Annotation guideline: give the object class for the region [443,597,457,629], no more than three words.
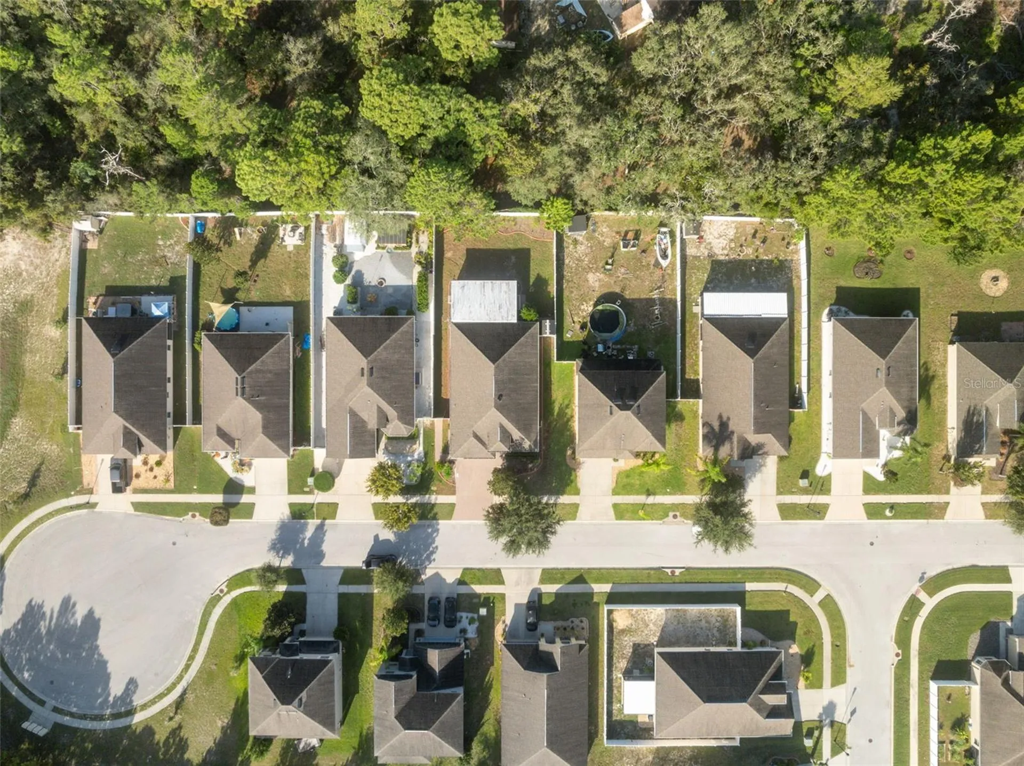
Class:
car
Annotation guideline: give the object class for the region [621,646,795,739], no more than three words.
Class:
house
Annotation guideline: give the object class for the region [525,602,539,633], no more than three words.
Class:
car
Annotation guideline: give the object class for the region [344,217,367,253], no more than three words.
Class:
shed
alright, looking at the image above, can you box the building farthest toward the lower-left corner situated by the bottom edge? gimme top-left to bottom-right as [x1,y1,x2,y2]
[248,635,343,739]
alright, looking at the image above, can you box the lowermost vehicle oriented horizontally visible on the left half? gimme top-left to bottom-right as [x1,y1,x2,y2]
[363,555,396,570]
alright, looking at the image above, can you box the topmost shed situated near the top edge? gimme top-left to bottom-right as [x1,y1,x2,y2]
[605,0,660,42]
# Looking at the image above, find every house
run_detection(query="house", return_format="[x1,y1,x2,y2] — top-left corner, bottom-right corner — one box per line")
[968,632,1024,766]
[826,318,919,459]
[574,359,666,460]
[374,638,465,764]
[947,341,1024,458]
[202,333,295,458]
[326,316,415,459]
[248,635,343,739]
[81,317,176,460]
[450,281,539,459]
[621,646,795,739]
[699,292,789,461]
[501,633,588,766]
